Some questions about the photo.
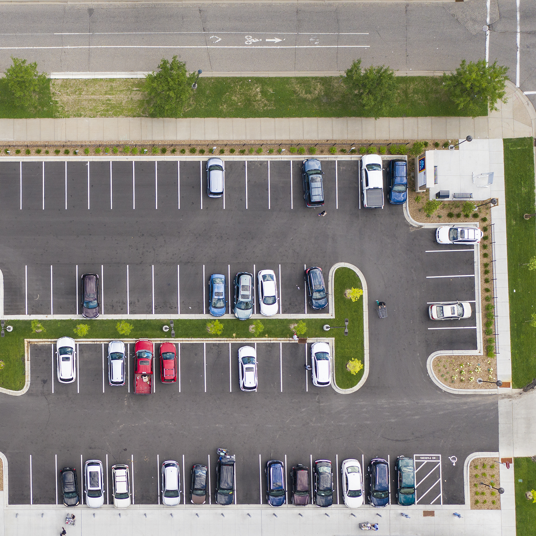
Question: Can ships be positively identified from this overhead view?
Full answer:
No, there is no ship in the image.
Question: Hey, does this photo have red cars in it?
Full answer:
Yes, I can see a red car in this picture.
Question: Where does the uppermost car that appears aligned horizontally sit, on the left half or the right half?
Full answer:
You can find the uppermost car that appears aligned horizontally on the right side of the picture.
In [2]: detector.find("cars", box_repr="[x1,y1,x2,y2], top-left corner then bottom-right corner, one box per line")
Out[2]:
[256,270,279,316]
[435,224,485,245]
[111,465,132,509]
[264,460,287,507]
[394,456,417,506]
[56,337,77,384]
[106,341,128,386]
[237,346,259,392]
[386,158,409,205]
[214,459,237,506]
[313,459,335,508]
[158,342,179,384]
[367,458,391,508]
[427,300,471,322]
[208,274,229,317]
[80,273,101,319]
[288,465,312,507]
[341,458,364,508]
[59,466,80,507]
[84,459,105,508]
[160,460,183,506]
[309,342,333,387]
[189,465,210,505]
[233,272,255,320]
[205,158,227,198]
[301,158,325,209]
[303,266,329,309]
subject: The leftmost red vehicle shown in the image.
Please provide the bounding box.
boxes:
[132,340,155,394]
